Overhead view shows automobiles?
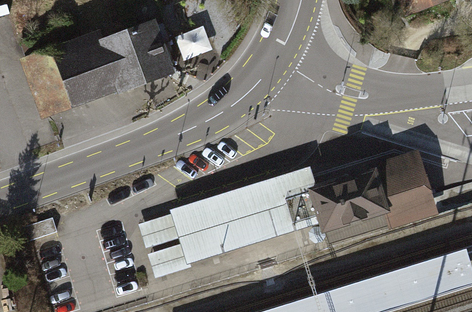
Yes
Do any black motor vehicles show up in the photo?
Yes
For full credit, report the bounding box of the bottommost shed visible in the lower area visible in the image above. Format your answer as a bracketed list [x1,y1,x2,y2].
[148,244,188,278]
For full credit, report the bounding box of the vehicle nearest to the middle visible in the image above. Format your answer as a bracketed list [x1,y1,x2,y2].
[216,142,238,160]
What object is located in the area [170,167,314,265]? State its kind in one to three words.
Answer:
building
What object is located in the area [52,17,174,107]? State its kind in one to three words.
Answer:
building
